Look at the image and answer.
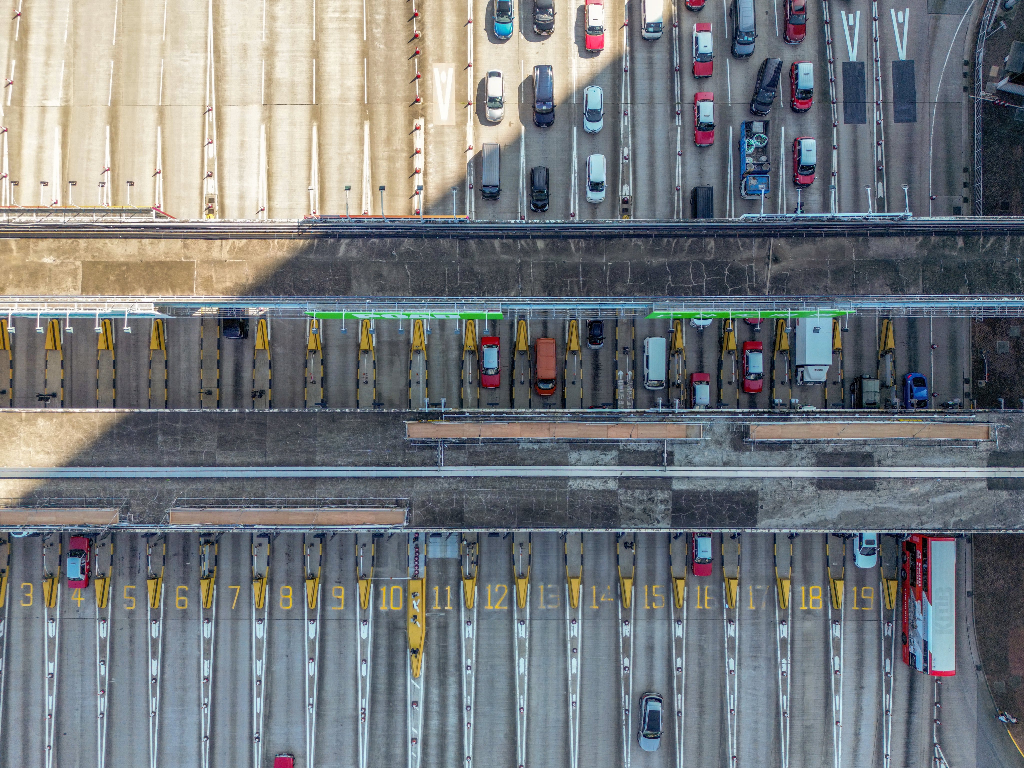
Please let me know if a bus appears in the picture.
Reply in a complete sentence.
Yes, I can see a bus in this picture.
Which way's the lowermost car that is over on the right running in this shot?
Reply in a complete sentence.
The lowermost car that is over on the right runs vertically in the image.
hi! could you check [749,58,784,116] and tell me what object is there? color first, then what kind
black van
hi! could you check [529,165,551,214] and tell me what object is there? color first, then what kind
black car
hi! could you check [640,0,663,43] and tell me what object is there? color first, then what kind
white vehicle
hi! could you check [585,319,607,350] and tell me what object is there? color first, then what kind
black car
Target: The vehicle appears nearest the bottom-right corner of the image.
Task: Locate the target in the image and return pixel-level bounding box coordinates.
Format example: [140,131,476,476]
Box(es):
[898,533,956,675]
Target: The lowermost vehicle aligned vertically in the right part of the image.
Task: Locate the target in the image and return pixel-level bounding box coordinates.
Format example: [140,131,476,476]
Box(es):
[638,692,664,748]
